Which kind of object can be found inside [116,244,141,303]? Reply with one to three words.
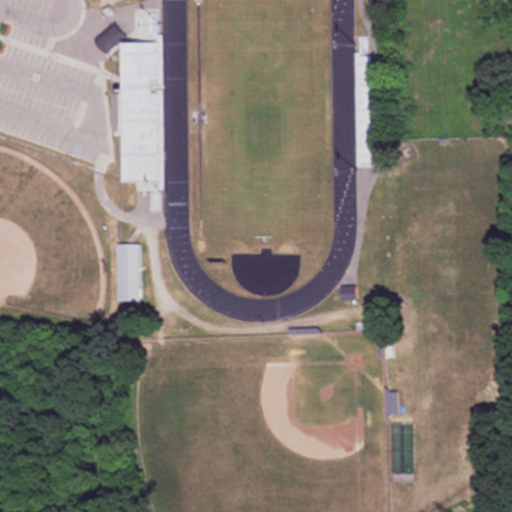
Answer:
building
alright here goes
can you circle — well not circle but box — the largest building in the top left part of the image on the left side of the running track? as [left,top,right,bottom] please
[94,22,127,52]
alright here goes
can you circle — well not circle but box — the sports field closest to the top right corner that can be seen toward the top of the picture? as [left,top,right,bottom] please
[188,0,332,298]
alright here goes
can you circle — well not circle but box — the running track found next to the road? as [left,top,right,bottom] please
[164,0,356,322]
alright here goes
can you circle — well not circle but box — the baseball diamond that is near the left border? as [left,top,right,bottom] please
[0,145,106,324]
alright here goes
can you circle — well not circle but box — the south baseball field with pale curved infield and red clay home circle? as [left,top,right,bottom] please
[138,330,390,512]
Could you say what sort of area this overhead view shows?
sports ground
